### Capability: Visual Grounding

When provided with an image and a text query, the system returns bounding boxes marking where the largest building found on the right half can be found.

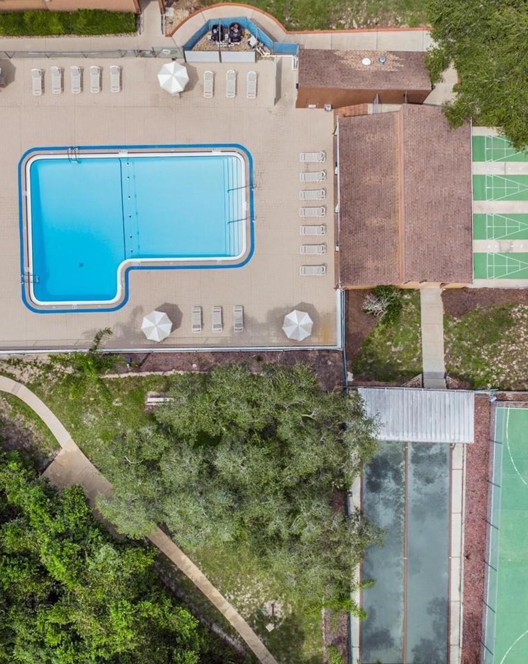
[329,105,474,290]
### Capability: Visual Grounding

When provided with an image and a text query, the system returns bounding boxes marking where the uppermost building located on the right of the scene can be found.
[297,49,436,109]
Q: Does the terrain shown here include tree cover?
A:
Yes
